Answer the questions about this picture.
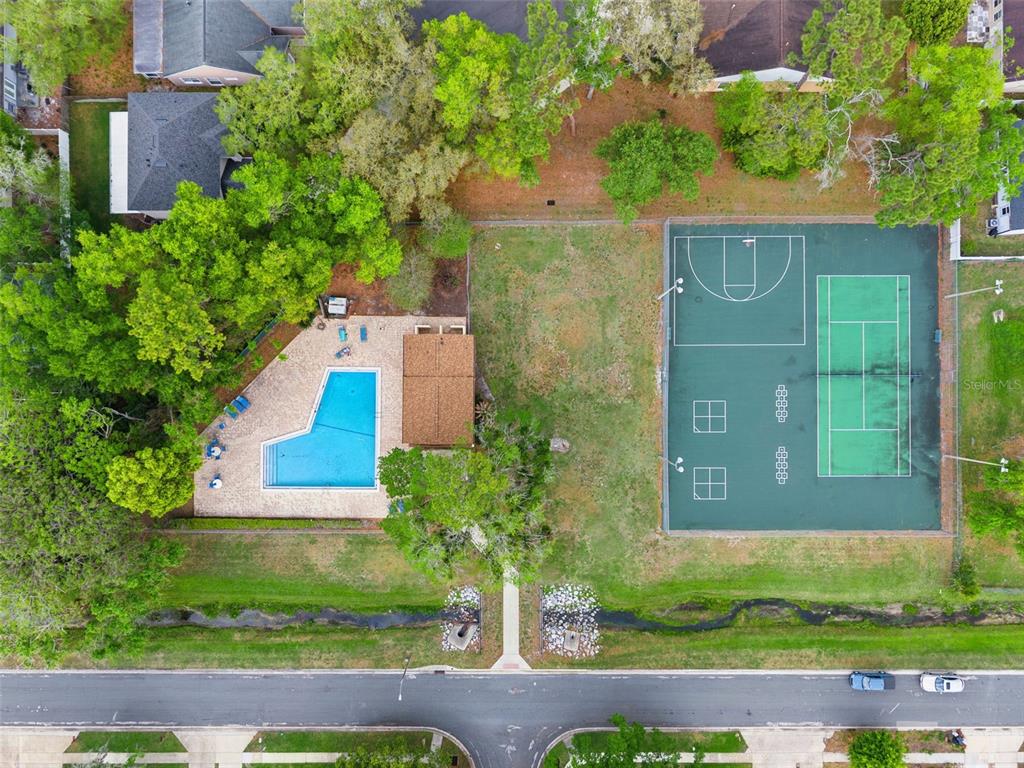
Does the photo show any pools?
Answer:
Yes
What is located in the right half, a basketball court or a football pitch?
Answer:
basketball court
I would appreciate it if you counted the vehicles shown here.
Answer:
2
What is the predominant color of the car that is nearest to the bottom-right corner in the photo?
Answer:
white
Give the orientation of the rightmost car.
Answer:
horizontally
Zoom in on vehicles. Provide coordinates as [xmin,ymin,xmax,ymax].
[850,672,900,694]
[921,673,966,695]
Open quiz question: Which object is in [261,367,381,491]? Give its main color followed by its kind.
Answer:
blue swimming pool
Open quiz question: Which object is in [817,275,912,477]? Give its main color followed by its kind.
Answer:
green tennis court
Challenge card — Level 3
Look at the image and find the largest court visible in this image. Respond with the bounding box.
[663,223,942,532]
